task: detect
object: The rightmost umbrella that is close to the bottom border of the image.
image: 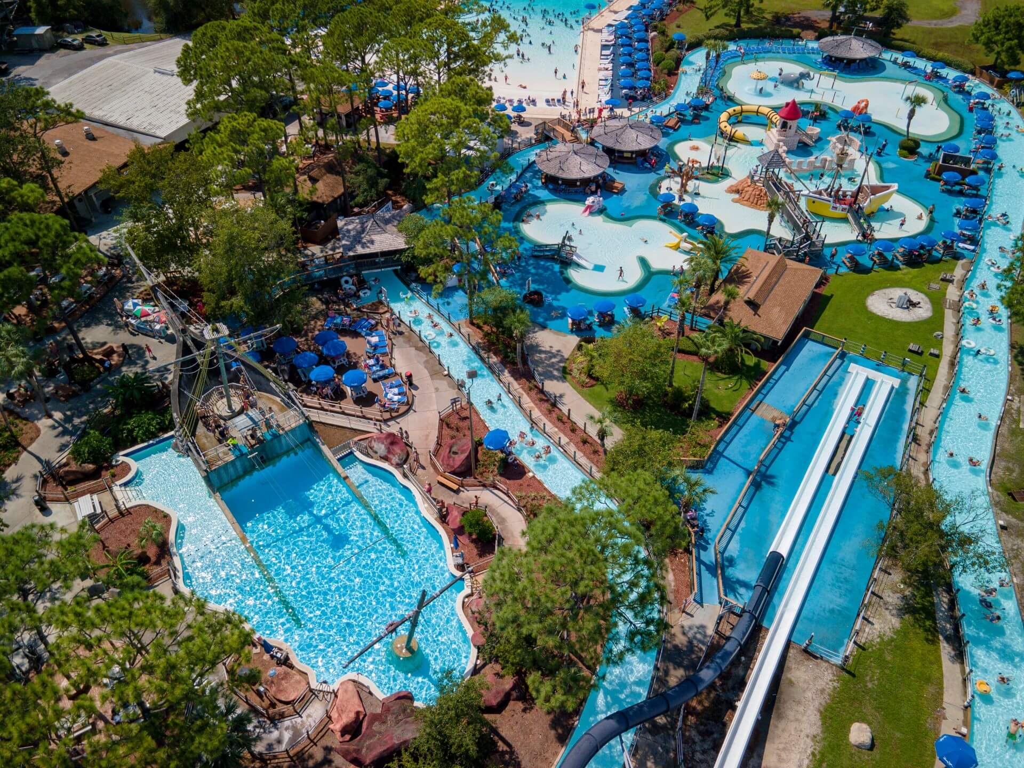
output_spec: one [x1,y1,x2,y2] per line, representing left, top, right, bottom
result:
[930,729,980,768]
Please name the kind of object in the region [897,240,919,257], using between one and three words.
umbrella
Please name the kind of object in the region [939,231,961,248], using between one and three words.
umbrella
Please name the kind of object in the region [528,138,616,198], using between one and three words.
shed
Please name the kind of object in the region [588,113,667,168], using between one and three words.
shed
